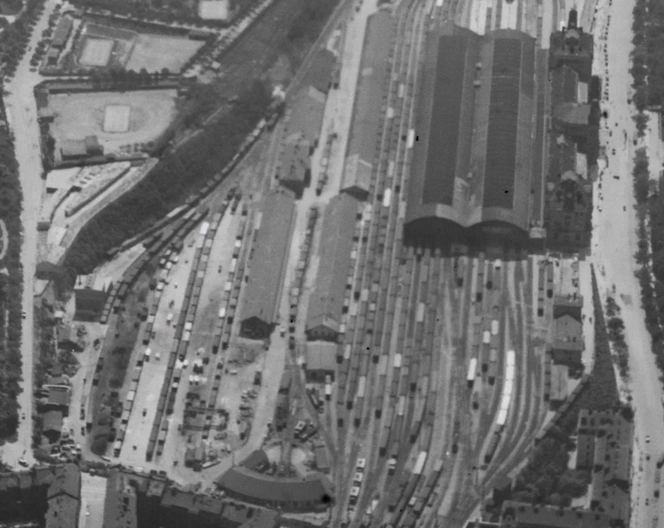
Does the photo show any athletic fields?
Yes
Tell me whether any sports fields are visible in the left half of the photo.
Yes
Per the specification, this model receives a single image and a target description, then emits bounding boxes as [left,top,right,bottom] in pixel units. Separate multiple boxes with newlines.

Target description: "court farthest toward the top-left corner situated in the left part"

[79,40,113,67]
